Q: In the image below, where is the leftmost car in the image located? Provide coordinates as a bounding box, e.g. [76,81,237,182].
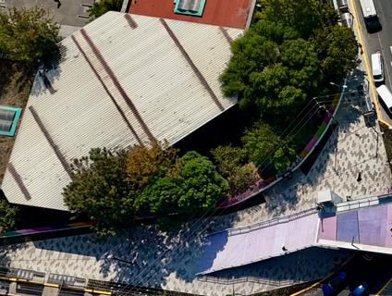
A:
[320,267,350,296]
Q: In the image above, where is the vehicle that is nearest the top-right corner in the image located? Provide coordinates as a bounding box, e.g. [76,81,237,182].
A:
[361,0,382,23]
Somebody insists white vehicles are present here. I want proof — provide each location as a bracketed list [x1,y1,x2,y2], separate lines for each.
[361,0,382,23]
[371,52,386,84]
[375,84,392,118]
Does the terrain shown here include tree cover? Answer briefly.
Yes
